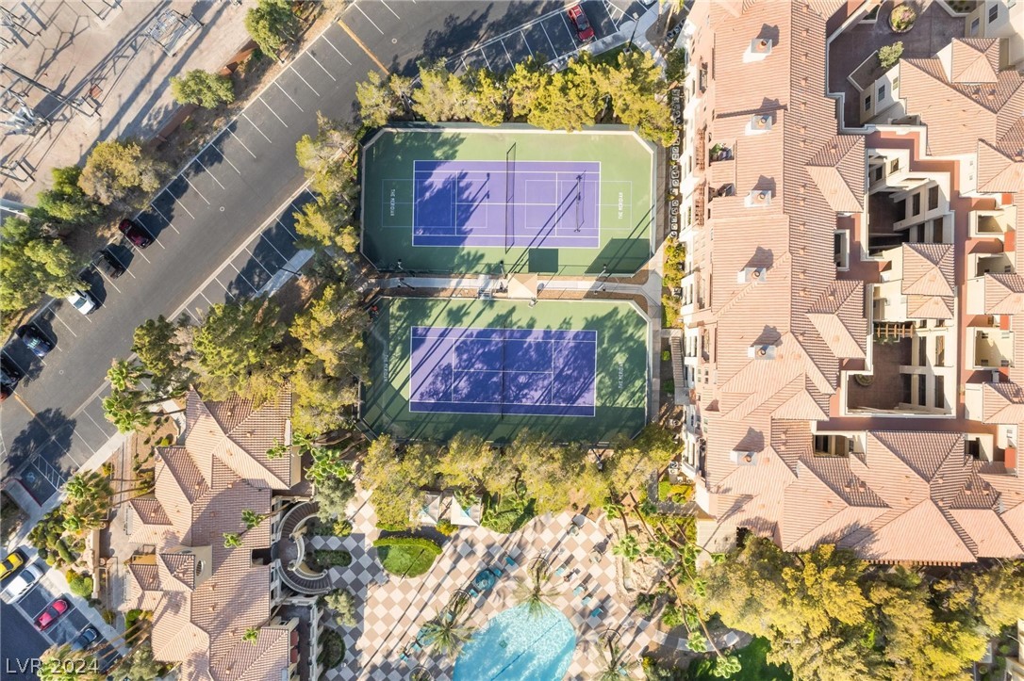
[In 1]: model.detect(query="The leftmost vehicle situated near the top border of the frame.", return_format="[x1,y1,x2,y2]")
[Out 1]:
[568,0,597,41]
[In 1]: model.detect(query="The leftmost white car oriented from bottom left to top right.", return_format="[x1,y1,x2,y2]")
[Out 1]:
[0,566,45,609]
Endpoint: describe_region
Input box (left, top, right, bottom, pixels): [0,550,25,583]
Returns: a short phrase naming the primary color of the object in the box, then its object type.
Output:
yellow car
